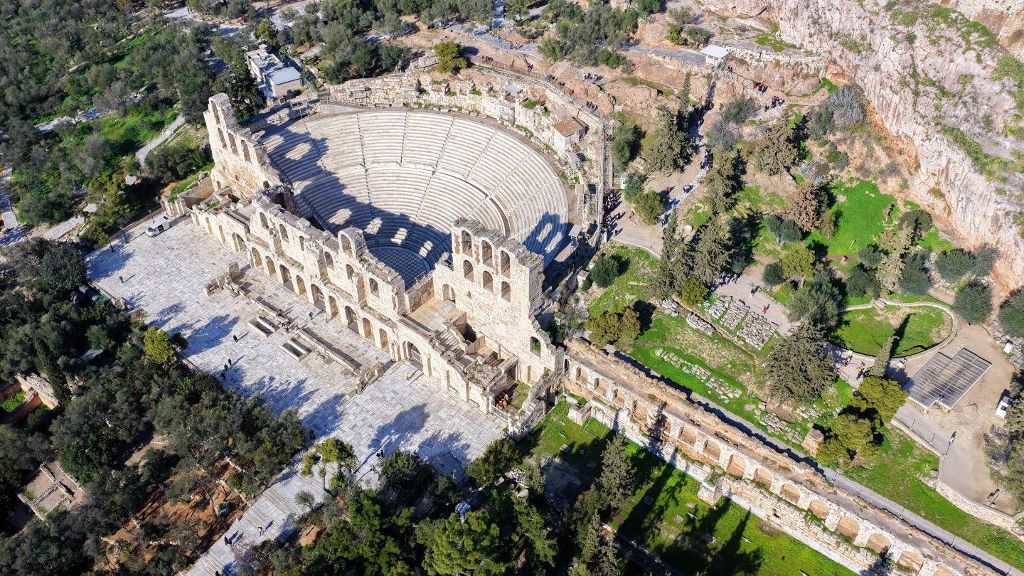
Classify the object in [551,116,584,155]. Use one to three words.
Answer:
house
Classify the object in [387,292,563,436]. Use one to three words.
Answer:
building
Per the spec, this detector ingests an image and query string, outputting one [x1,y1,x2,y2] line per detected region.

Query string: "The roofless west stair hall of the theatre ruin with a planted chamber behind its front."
[182,186,255,259]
